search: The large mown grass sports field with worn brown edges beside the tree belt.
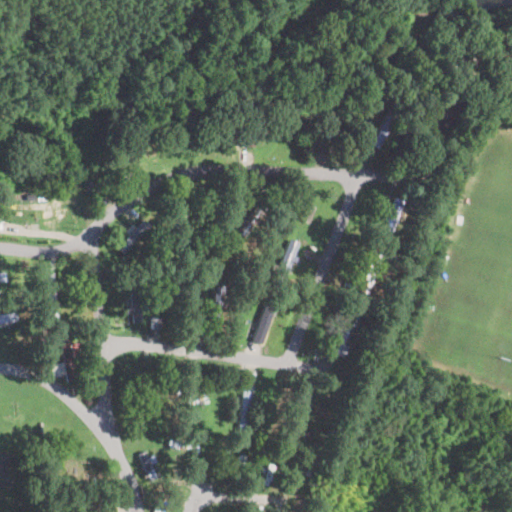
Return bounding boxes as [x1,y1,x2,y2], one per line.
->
[412,124,512,397]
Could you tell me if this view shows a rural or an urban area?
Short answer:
rural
